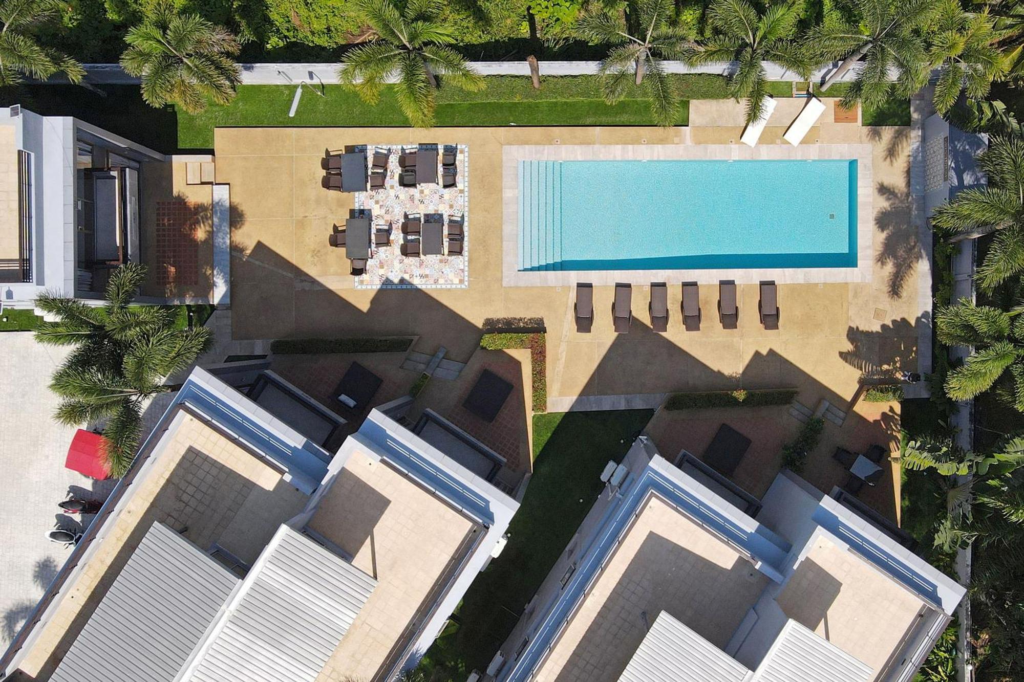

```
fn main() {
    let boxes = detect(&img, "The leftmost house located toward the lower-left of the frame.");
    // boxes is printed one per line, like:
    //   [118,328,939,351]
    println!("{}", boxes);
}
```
[0,359,346,682]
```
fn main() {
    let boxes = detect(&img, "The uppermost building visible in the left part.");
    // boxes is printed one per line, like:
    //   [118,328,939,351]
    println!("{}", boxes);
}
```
[0,110,160,297]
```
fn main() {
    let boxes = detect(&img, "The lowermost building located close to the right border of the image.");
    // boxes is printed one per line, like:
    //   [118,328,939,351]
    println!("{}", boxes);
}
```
[730,465,973,682]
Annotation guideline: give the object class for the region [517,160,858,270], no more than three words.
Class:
swimming pool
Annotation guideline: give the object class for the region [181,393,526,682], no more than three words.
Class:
house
